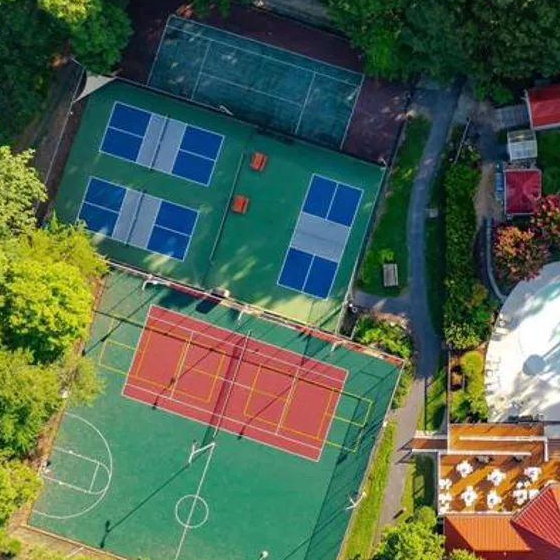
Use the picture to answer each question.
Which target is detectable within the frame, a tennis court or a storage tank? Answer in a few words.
tennis court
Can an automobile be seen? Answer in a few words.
No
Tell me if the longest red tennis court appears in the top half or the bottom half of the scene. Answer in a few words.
bottom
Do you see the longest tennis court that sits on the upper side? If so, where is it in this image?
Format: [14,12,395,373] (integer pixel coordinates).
[147,15,364,145]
